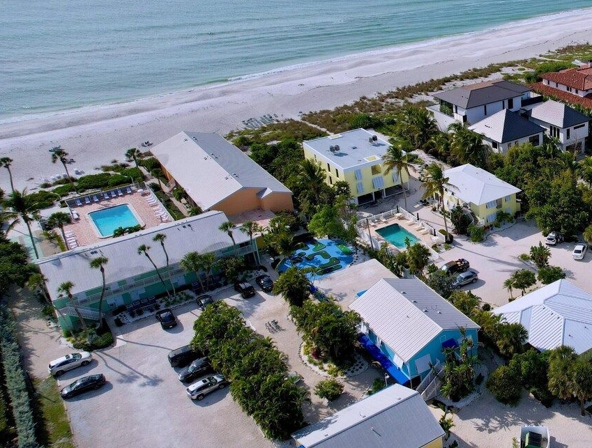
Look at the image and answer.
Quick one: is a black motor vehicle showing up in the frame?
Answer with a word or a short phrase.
Yes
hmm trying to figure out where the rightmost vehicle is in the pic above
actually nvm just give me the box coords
[573,243,589,261]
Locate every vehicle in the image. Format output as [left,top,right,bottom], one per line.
[154,307,177,329]
[542,228,568,245]
[455,266,480,287]
[192,291,210,310]
[47,352,93,375]
[173,356,209,380]
[254,275,276,292]
[573,243,589,261]
[232,280,256,299]
[161,342,208,367]
[59,372,107,399]
[184,375,229,399]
